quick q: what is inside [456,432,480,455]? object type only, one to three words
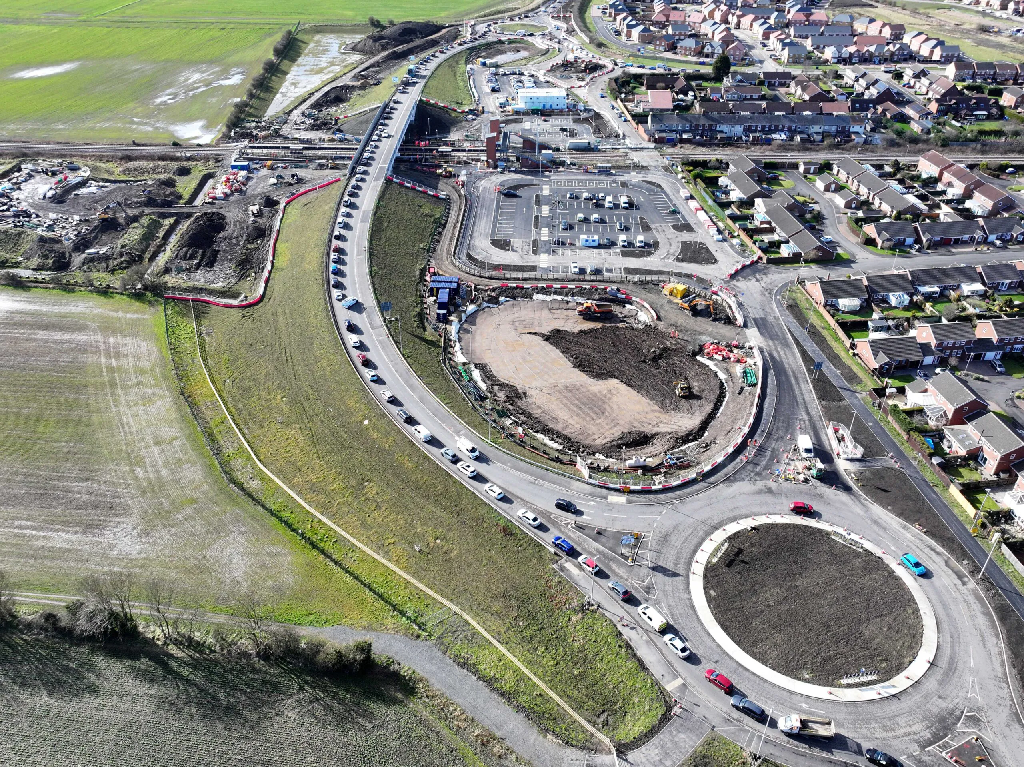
vehicle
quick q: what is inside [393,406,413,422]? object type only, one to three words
car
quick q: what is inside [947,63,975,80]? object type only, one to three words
house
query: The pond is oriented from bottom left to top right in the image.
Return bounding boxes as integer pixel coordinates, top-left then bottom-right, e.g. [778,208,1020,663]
[284,34,358,96]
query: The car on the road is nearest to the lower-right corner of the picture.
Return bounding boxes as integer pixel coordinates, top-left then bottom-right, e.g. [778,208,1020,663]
[865,742,909,767]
